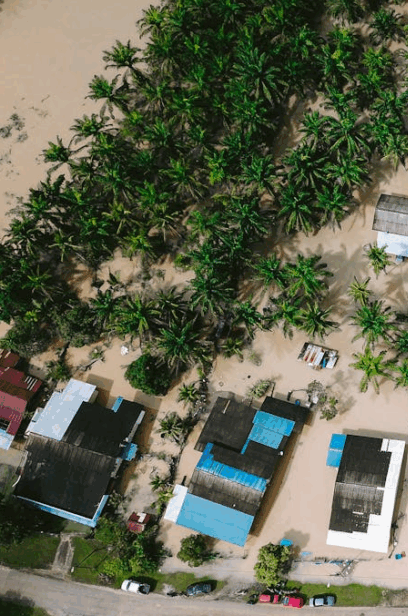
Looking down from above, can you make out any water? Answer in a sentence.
Yes, some water is visible.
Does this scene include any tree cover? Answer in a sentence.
Yes, there's tree cover in this view.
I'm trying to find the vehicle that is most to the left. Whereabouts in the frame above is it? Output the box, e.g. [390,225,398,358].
[121,578,152,594]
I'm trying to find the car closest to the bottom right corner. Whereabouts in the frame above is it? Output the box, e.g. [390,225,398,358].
[309,593,337,607]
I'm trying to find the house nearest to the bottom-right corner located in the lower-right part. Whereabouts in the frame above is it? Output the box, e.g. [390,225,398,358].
[326,433,405,553]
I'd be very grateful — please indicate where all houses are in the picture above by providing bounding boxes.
[0,349,50,450]
[15,379,149,526]
[326,433,405,553]
[372,194,408,257]
[164,396,312,547]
